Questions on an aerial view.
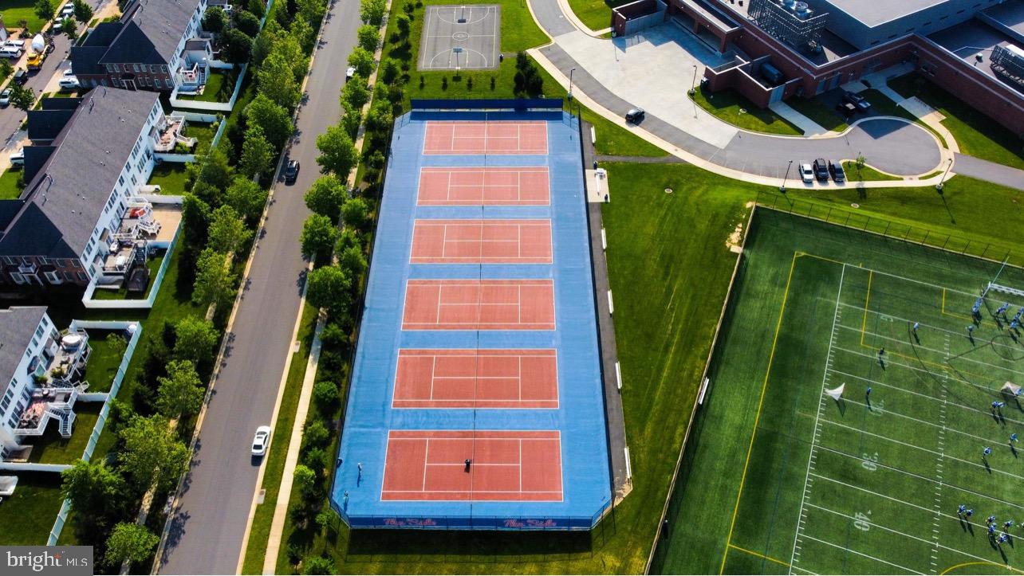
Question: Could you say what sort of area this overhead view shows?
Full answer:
What you see here is a sports ground.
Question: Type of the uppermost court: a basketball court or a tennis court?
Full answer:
It turns out the uppermost court is a basketball court.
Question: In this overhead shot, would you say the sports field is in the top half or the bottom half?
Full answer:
Seen from above, the sports field lies in the bottom half of the view.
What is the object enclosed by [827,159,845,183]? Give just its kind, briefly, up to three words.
vehicle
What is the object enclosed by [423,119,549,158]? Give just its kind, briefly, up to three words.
tennis court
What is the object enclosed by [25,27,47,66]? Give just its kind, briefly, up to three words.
truck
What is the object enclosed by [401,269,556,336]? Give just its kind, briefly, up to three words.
tennis court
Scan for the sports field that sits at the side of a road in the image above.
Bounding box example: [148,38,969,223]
[647,207,1024,576]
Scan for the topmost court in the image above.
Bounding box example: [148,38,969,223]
[417,4,502,71]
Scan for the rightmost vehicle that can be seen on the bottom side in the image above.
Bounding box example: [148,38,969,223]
[247,427,268,459]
